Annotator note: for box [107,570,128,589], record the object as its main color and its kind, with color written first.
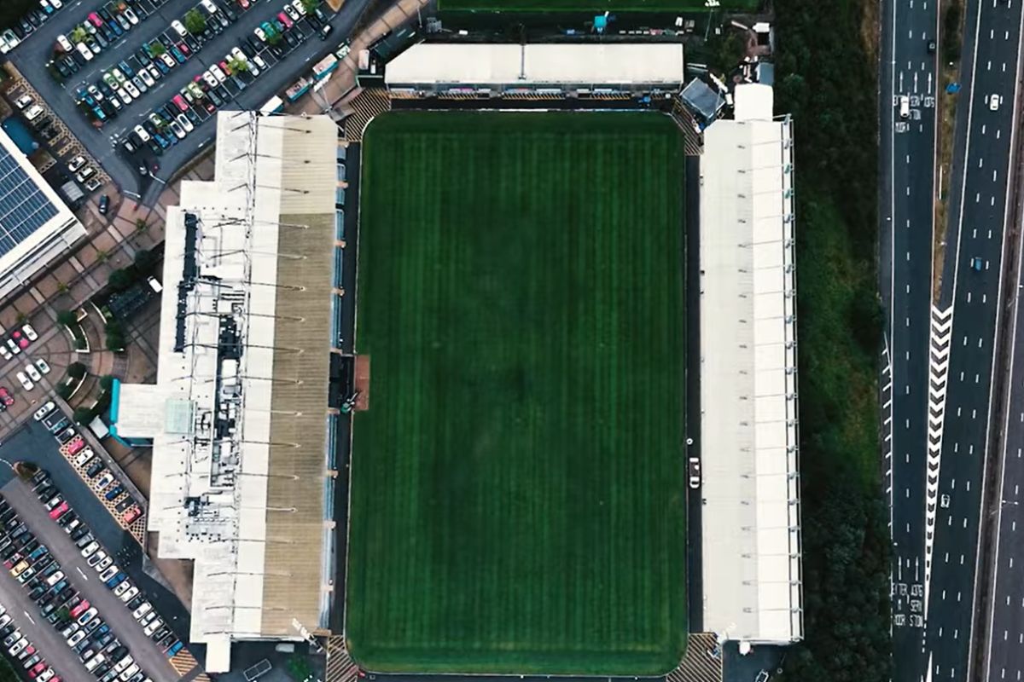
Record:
blue car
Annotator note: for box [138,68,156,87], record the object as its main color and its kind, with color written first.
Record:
white car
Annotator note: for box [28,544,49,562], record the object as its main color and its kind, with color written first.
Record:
blue car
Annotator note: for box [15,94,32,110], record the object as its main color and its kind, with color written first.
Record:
white car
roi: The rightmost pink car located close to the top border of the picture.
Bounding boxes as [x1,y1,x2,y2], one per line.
[277,10,294,29]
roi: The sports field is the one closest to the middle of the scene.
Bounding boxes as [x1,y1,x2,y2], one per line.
[346,111,688,677]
